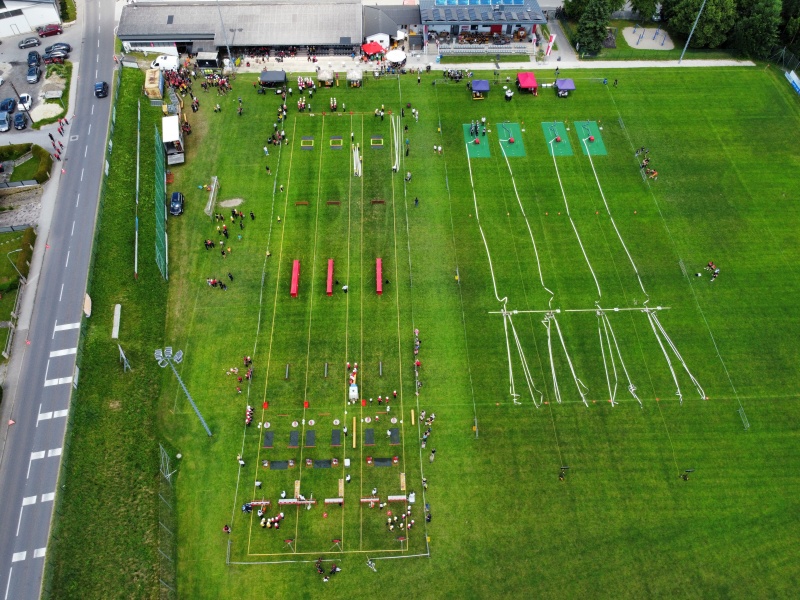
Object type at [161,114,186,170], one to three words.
trailer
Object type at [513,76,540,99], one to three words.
gazebo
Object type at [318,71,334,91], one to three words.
gazebo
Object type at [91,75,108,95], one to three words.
car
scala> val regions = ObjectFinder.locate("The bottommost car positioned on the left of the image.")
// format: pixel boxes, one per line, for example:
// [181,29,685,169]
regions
[166,191,184,216]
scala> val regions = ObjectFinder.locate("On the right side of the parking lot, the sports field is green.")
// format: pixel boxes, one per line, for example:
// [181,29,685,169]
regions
[165,66,800,600]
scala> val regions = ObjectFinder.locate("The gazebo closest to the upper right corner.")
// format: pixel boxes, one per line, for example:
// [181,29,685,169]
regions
[552,80,578,99]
